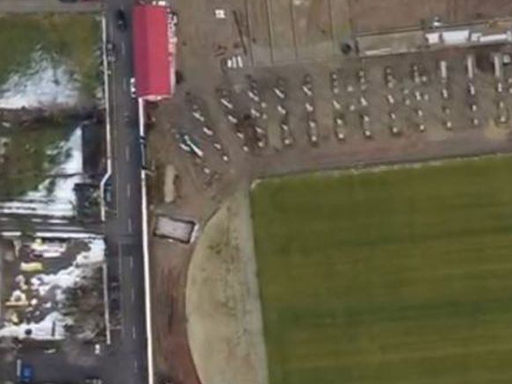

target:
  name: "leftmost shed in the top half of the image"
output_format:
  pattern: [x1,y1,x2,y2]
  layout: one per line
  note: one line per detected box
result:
[81,125,110,175]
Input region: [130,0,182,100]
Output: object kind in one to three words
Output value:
building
